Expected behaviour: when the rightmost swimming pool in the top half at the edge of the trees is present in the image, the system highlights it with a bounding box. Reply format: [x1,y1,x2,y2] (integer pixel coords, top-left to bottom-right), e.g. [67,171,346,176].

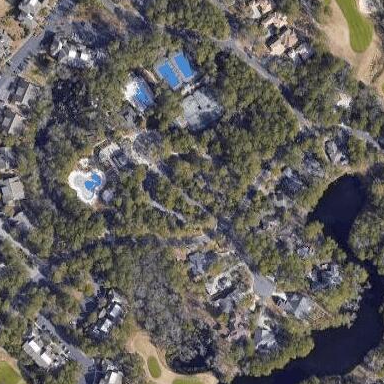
[126,77,155,112]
